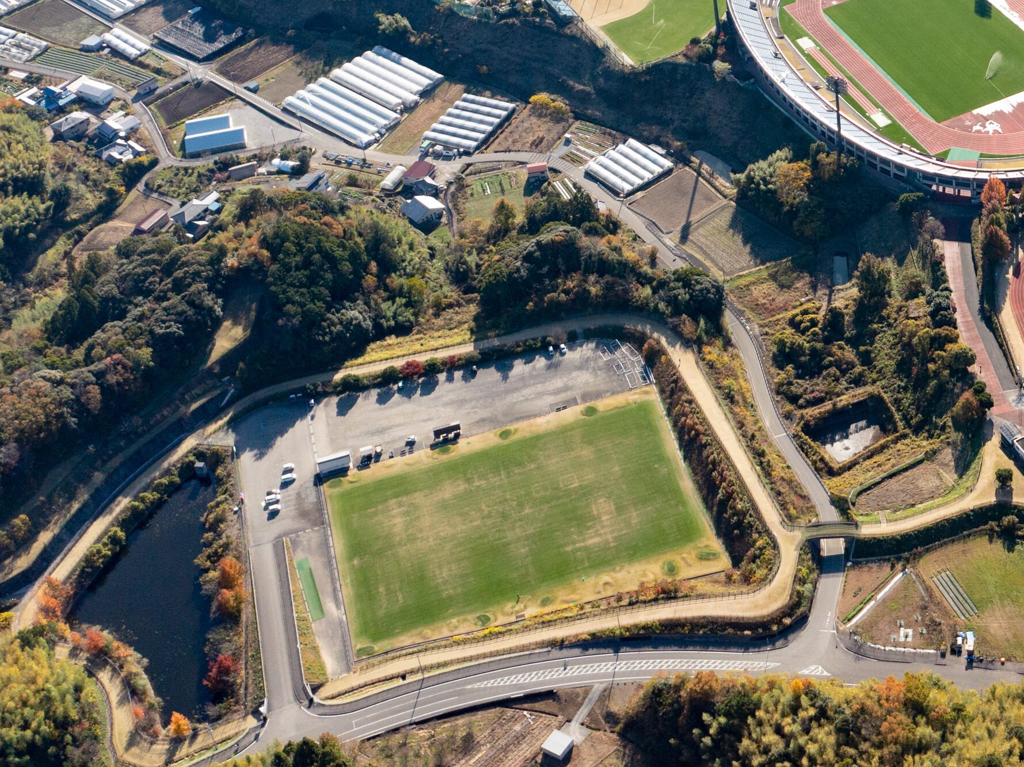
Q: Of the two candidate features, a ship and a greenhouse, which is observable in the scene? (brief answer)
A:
greenhouse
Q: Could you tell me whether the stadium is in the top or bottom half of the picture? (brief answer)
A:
top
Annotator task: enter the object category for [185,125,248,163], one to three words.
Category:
building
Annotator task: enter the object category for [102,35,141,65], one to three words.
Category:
greenhouse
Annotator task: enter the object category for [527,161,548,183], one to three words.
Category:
barn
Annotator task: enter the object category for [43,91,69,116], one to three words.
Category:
house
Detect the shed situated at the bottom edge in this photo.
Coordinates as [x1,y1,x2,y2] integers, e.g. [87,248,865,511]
[543,729,574,760]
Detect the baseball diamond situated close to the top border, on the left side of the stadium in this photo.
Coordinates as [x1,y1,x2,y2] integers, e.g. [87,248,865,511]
[573,0,724,64]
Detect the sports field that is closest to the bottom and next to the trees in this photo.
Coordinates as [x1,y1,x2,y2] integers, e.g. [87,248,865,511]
[322,387,732,663]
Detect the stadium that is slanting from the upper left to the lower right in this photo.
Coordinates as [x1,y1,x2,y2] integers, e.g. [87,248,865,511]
[722,0,1024,205]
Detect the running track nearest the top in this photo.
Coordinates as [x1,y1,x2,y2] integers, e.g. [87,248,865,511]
[784,0,1024,154]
